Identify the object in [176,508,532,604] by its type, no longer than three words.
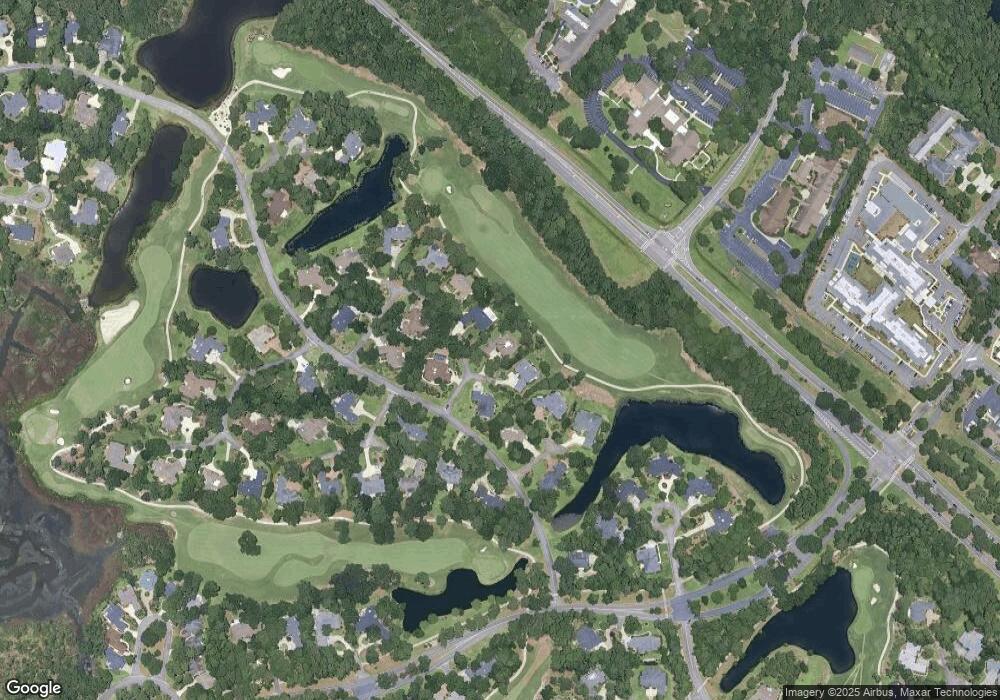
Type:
golf course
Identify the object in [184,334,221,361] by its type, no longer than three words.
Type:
house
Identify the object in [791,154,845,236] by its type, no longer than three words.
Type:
building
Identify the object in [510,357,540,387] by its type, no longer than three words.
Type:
house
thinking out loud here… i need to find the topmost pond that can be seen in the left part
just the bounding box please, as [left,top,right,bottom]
[137,0,292,107]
